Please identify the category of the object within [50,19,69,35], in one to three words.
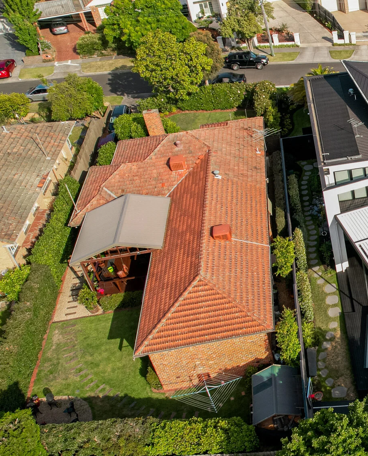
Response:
car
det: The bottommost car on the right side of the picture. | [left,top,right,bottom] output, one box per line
[208,70,250,88]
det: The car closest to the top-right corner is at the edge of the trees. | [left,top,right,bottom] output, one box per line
[226,48,268,69]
